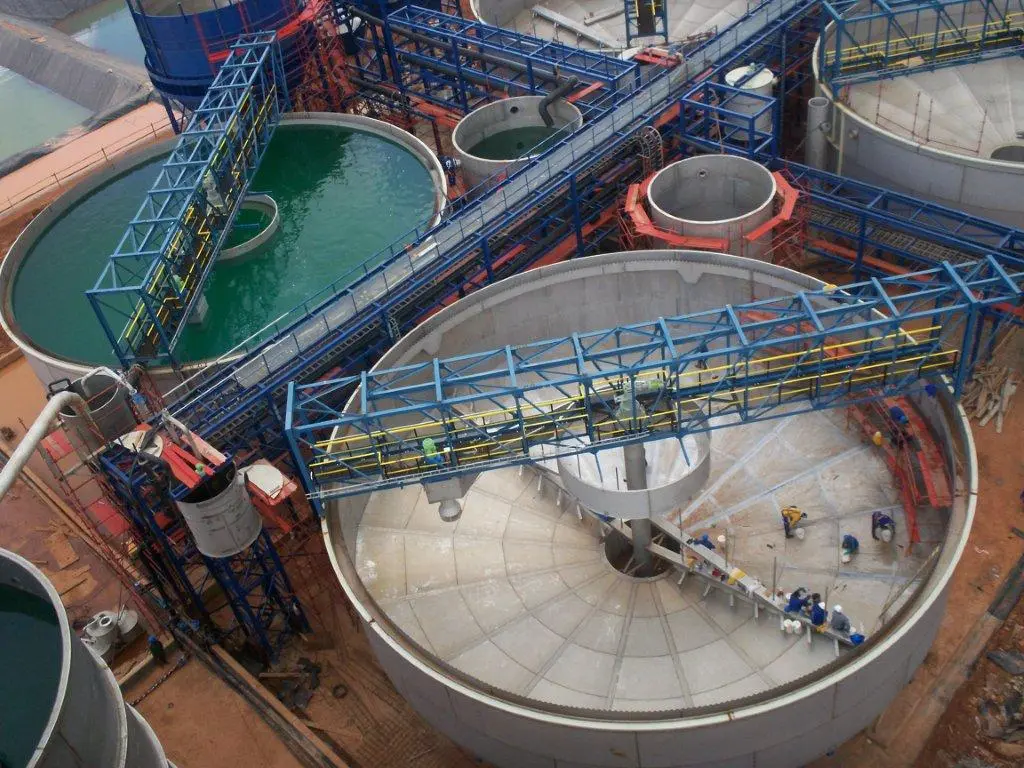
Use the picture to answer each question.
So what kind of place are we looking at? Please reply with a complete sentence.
It's an industrial area.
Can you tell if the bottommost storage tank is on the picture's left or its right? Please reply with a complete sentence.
The bottommost storage tank appears in the left half of the scene.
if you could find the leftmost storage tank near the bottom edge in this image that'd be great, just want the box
[0,546,197,768]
